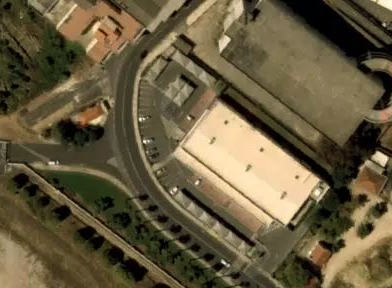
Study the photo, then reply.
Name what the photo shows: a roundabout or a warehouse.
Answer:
warehouse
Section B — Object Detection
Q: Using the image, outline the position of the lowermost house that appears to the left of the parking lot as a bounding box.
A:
[75,101,104,124]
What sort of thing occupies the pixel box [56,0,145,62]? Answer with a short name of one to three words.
house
